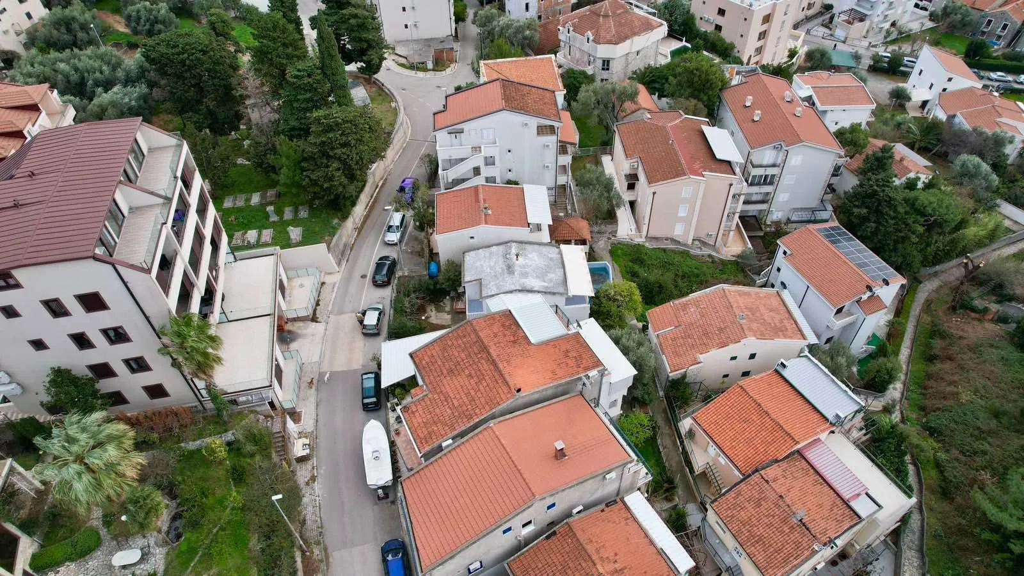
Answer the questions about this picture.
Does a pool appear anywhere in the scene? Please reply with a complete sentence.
Yes, the picture does show a pool.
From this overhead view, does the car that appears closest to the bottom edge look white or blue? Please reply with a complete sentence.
In this view, the car that appears closest to the bottom edge is blue.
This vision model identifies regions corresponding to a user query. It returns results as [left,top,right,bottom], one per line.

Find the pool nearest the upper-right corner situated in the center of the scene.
[587,261,613,288]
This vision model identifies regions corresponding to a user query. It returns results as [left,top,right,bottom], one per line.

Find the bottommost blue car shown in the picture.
[377,532,408,576]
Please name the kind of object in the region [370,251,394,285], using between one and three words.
car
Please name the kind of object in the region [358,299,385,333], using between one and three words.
car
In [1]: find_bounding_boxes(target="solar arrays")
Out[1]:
[817,225,900,281]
